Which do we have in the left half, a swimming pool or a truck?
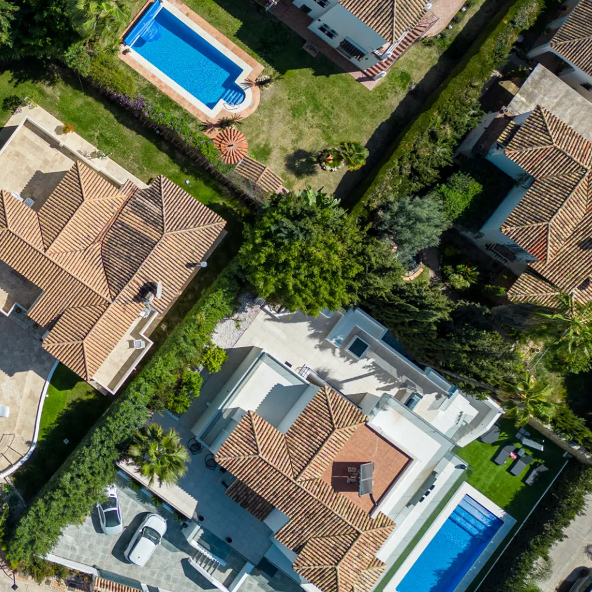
swimming pool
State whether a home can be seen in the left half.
Yes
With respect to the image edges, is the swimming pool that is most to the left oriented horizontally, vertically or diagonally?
diagonally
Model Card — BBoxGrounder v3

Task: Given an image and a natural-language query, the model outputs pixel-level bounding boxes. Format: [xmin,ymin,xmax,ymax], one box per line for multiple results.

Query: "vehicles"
[125,510,166,568]
[564,560,592,592]
[100,487,125,538]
